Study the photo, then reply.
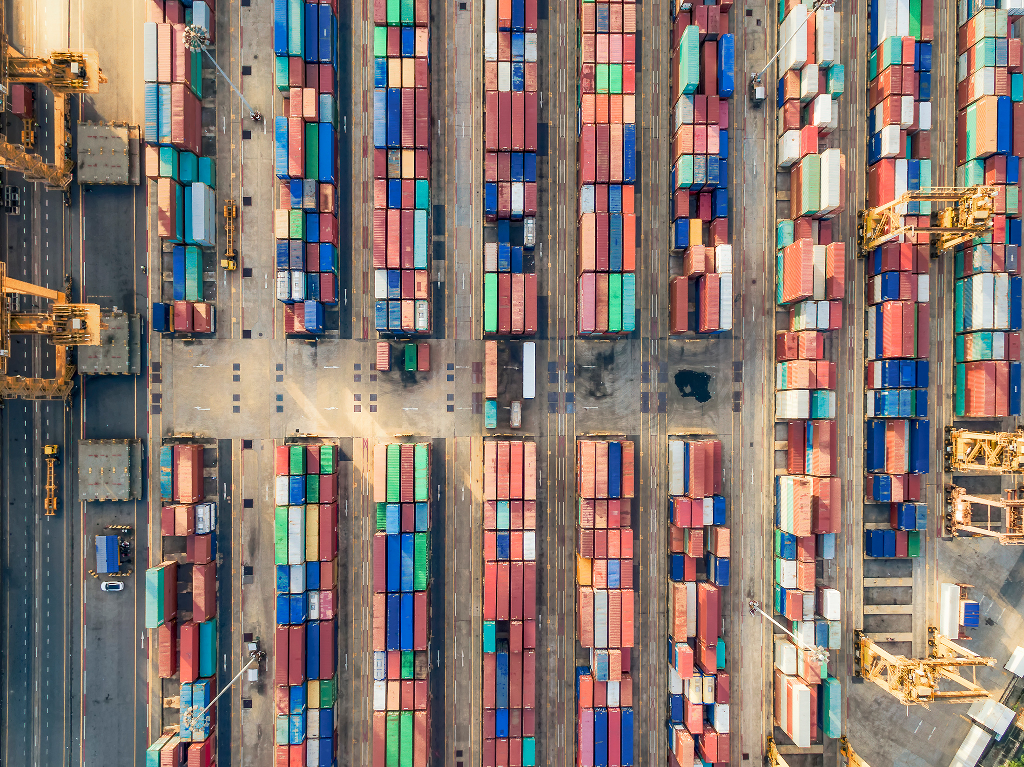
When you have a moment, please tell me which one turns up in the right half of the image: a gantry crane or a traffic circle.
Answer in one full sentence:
There is a gantry crane in the right half of the image.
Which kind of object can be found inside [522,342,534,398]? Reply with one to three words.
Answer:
vehicle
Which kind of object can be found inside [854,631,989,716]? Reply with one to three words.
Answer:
container crane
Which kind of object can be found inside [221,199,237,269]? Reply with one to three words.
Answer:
vehicle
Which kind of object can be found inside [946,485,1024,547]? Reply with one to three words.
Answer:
container crane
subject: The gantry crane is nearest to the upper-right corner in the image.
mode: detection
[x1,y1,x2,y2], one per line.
[857,194,993,258]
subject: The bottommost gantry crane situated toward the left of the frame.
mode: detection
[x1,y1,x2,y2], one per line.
[0,269,109,405]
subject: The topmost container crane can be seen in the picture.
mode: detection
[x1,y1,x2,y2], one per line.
[0,30,109,203]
